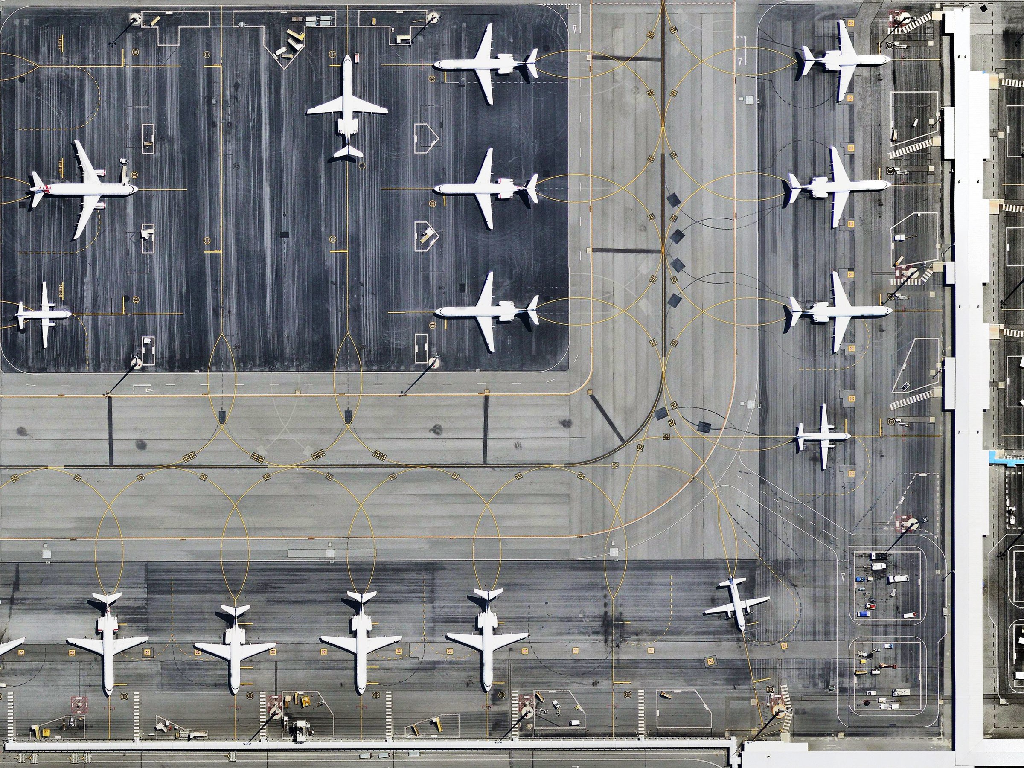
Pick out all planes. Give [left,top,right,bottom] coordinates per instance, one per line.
[307,55,388,158]
[802,19,891,101]
[17,281,72,347]
[67,592,149,696]
[435,271,540,353]
[434,148,539,230]
[434,23,538,105]
[790,270,893,352]
[796,403,851,469]
[706,577,771,632]
[29,140,138,239]
[447,588,529,692]
[788,144,891,226]
[195,604,276,694]
[321,590,402,694]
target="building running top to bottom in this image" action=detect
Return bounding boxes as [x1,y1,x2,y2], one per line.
[741,8,1024,768]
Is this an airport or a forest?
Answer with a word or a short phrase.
airport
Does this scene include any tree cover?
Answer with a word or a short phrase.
No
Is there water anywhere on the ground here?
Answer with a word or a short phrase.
No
